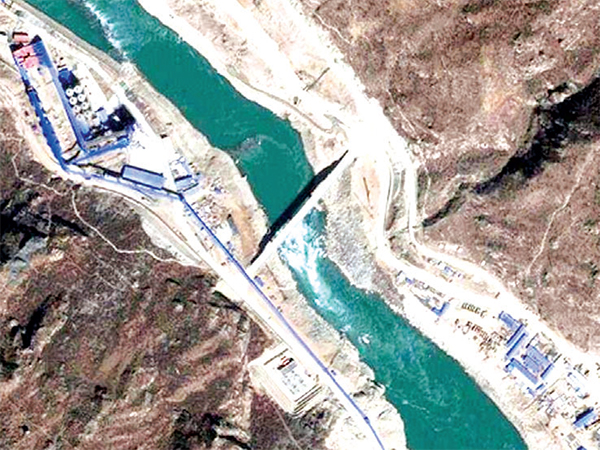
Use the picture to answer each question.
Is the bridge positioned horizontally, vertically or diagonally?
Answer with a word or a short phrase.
diagonally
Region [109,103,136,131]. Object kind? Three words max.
building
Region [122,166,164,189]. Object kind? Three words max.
building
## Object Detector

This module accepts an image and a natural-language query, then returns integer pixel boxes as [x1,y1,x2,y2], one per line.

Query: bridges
[240,136,367,274]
